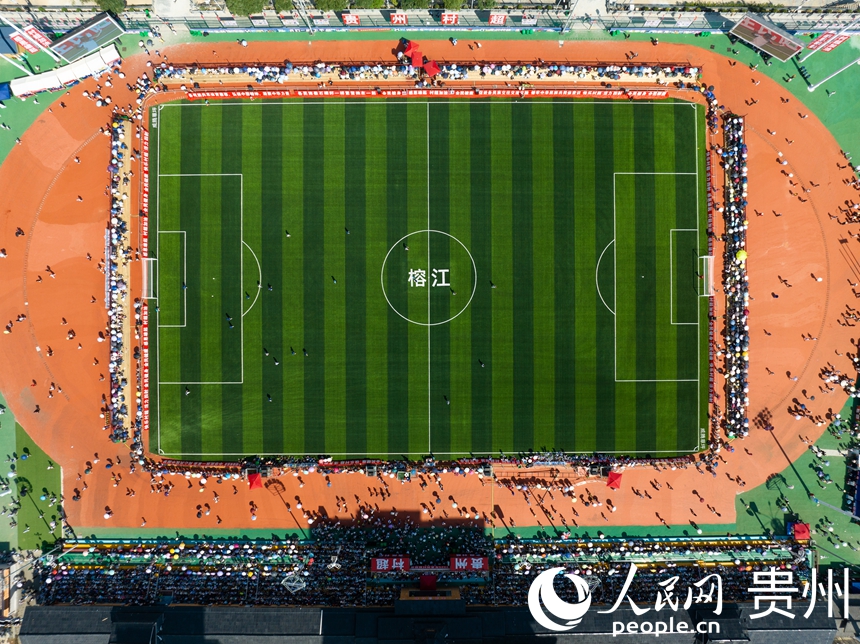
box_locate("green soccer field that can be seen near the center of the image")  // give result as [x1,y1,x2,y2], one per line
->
[149,97,709,462]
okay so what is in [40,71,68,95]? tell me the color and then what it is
white tent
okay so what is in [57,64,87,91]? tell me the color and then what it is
white tent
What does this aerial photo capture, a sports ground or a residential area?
sports ground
